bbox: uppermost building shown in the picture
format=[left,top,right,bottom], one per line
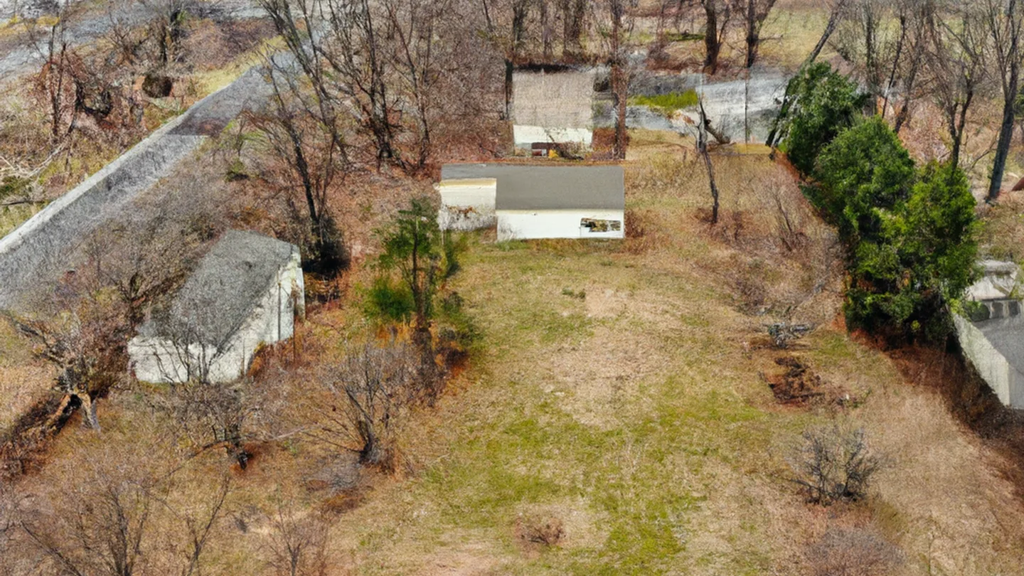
[511,68,599,159]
